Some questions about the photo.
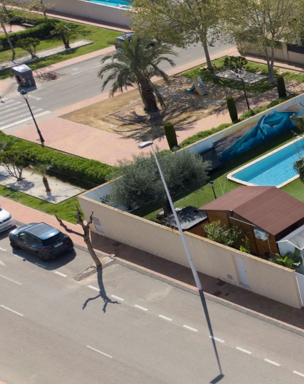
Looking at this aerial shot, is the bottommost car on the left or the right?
left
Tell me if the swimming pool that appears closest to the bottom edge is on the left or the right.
right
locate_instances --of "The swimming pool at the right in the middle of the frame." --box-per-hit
[229,131,303,188]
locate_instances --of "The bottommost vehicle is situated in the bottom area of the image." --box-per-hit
[1,215,76,261]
